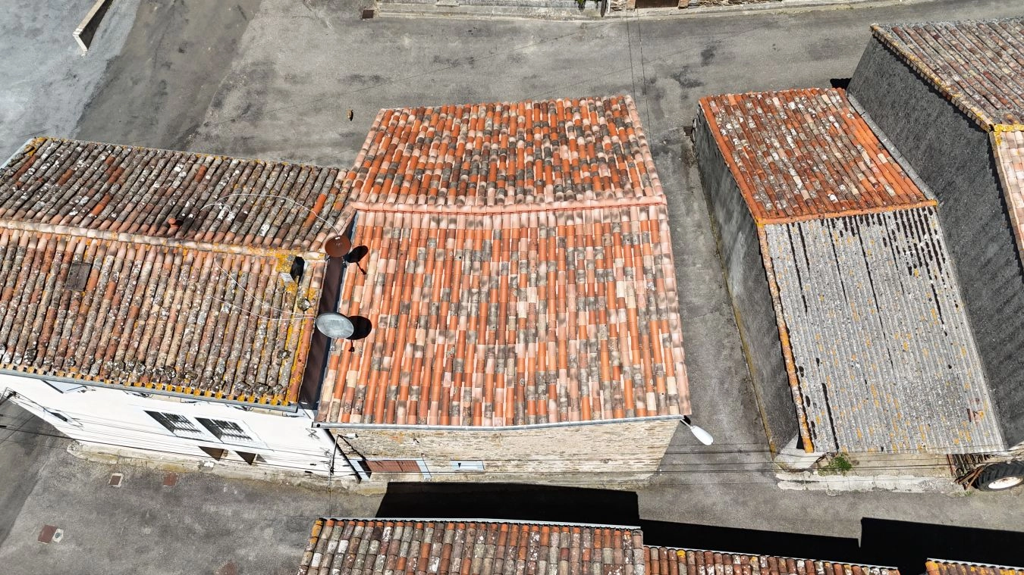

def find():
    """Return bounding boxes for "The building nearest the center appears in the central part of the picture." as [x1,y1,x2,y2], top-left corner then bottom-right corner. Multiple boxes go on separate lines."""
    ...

[305,92,696,479]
